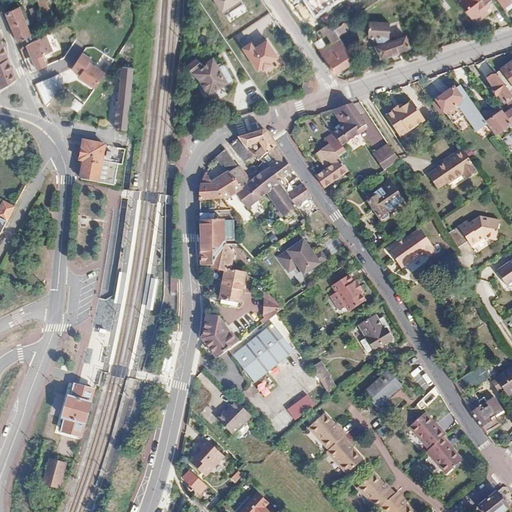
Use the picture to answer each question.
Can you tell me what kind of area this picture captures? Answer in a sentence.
The area seen from above is a residential area.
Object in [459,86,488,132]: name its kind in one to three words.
building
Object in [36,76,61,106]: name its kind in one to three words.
shed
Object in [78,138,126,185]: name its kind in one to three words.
house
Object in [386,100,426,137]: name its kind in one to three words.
house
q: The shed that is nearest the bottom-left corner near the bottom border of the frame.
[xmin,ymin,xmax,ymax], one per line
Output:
[45,458,67,489]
